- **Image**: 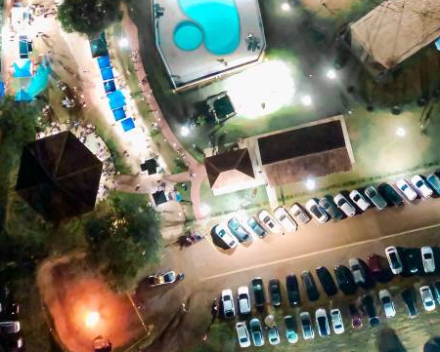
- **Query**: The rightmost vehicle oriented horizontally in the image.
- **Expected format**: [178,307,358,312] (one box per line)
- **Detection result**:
[148,269,184,287]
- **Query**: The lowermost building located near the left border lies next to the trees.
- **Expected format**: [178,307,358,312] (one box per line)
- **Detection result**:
[16,131,104,222]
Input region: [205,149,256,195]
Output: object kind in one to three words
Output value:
building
